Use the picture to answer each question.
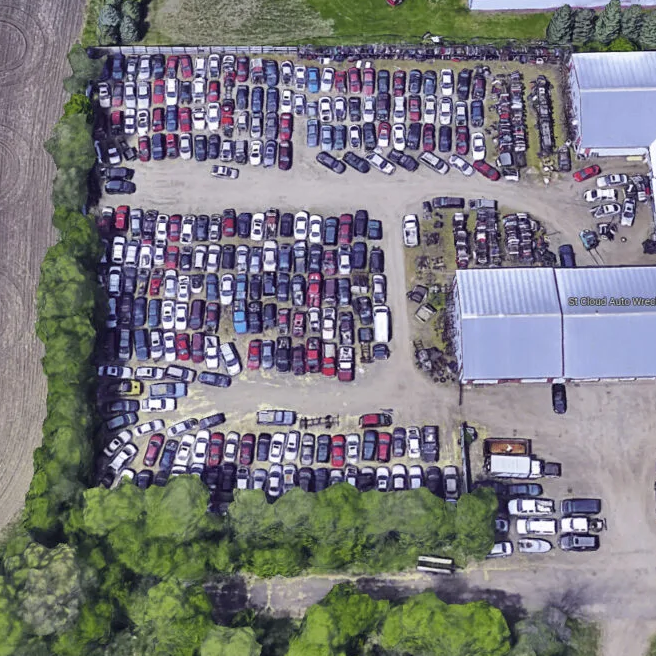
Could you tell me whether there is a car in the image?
Yes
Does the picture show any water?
No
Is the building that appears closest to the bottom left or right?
right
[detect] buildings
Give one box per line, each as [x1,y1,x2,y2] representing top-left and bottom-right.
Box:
[456,264,656,383]
[570,50,656,158]
[468,0,642,18]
